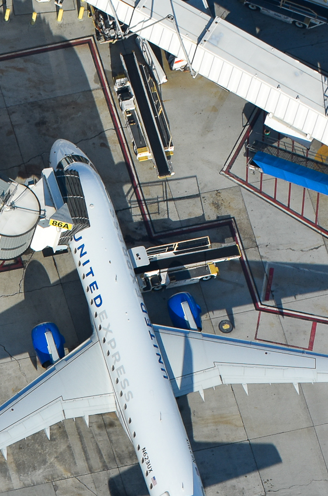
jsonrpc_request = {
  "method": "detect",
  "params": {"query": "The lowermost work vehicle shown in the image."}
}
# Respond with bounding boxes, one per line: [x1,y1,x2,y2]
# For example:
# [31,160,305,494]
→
[134,234,243,298]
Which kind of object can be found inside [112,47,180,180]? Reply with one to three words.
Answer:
work vehicle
